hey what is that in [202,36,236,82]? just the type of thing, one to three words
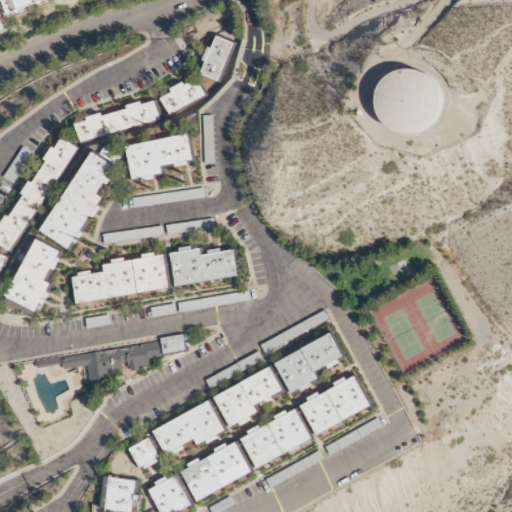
building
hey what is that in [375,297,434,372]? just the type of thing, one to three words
tennis court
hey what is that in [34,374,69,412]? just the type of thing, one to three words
swimming pool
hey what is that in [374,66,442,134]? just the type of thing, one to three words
storage tank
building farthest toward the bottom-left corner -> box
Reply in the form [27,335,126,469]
[100,476,139,512]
